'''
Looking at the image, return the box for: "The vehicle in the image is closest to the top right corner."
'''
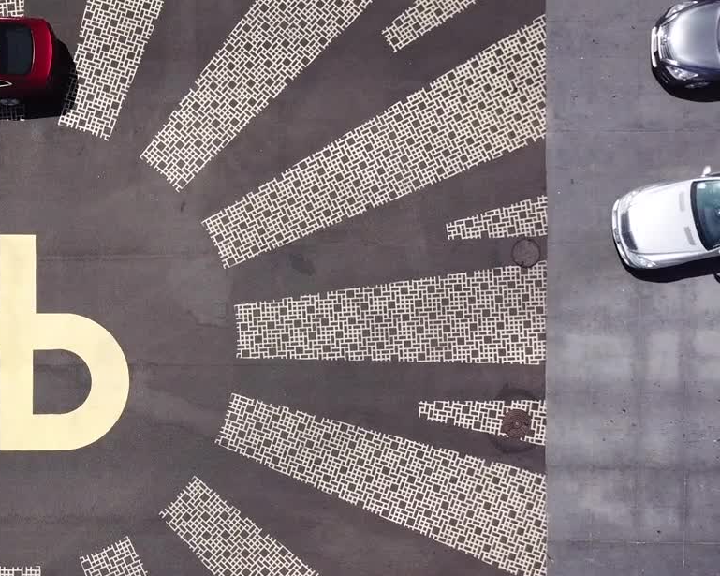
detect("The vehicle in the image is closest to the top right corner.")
[650,0,720,80]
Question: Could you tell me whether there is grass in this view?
No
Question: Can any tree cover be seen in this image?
No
